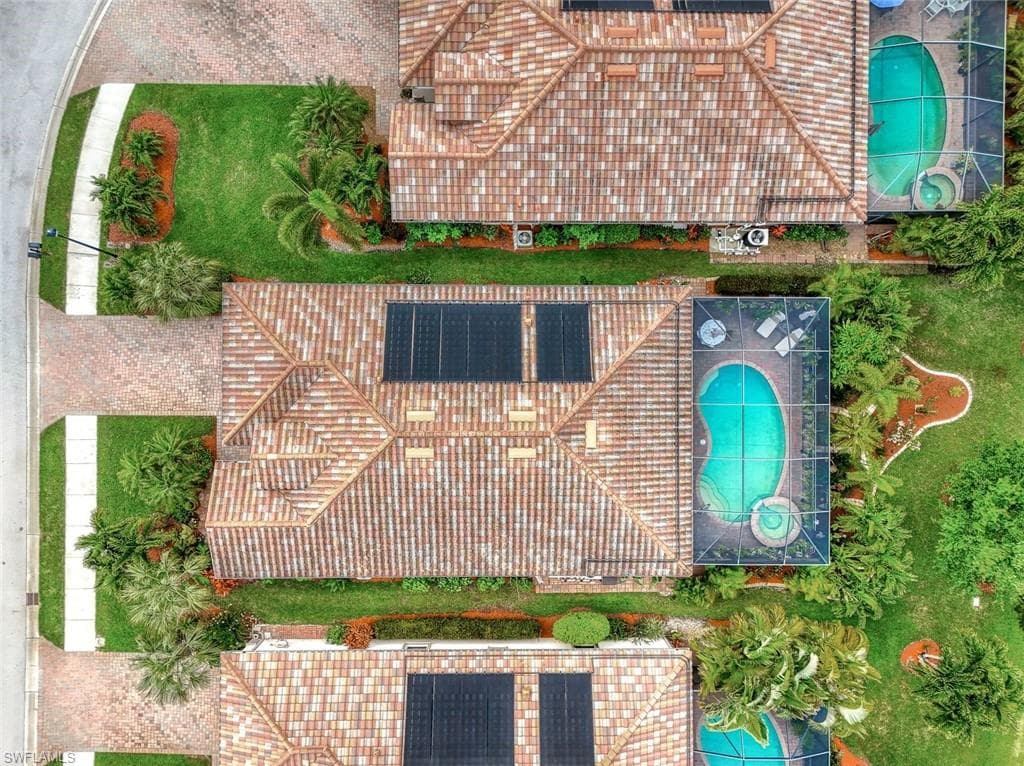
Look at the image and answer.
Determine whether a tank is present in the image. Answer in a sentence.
No, there appears to be no tank in this shot.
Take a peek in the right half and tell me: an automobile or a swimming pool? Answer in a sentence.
The feature located in the right half is a swimming pool.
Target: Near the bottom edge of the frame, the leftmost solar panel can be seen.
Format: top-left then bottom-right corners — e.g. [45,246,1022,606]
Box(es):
[401,672,516,766]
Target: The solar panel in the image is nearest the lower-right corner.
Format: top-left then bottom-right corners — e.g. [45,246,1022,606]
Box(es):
[534,672,597,766]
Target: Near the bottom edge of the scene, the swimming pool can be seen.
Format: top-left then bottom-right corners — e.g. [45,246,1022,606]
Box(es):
[693,707,789,766]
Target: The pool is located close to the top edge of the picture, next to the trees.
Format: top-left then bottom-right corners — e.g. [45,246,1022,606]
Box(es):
[868,31,953,201]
